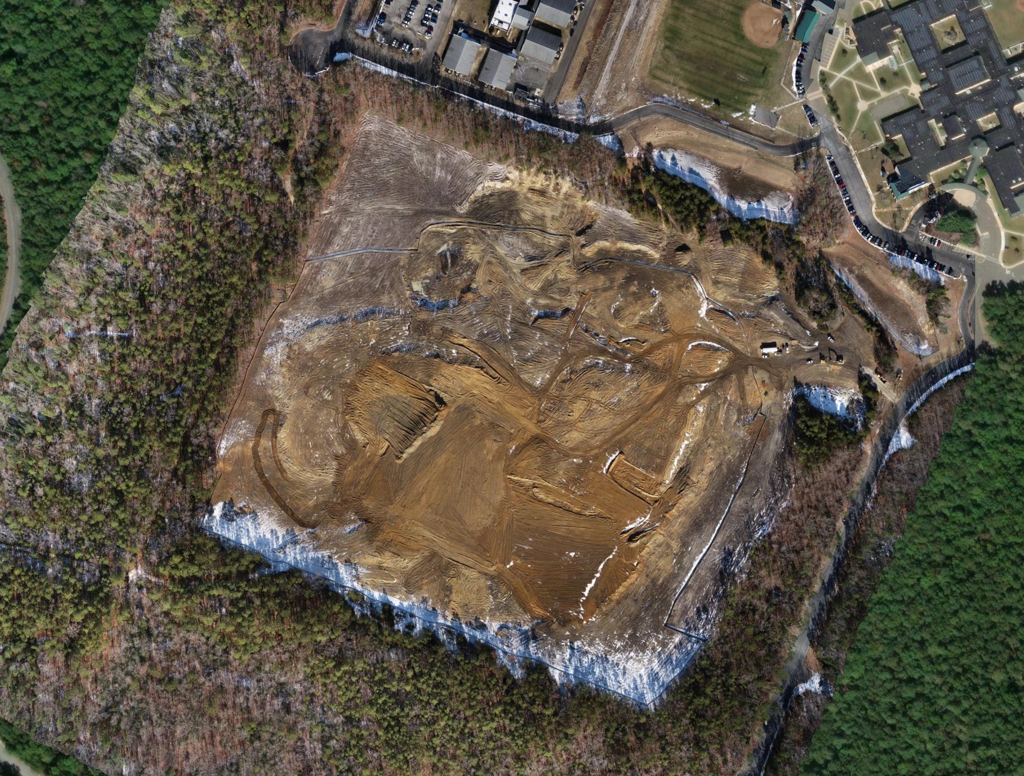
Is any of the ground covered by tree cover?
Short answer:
Yes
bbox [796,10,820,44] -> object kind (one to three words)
building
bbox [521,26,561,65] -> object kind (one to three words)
building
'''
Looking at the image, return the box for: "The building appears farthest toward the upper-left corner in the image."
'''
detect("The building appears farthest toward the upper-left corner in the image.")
[442,34,481,76]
